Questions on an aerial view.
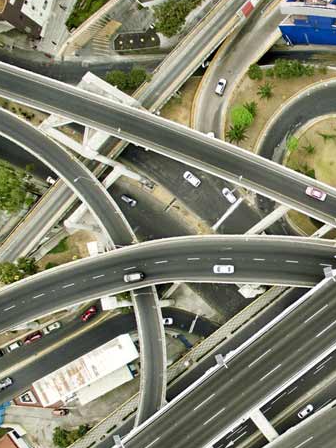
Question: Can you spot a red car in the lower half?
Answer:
Yes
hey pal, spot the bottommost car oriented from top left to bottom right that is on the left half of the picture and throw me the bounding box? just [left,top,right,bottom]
[121,193,138,207]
